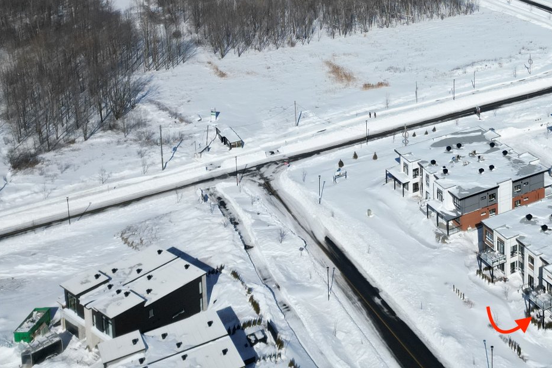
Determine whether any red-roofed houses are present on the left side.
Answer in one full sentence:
No, on the left side there is no red-roofed house.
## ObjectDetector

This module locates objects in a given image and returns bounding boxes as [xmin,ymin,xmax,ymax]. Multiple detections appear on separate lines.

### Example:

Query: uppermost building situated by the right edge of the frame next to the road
[387,129,552,235]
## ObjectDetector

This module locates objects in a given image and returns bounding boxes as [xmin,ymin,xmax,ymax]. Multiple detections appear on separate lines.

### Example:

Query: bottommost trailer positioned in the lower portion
[22,331,68,367]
